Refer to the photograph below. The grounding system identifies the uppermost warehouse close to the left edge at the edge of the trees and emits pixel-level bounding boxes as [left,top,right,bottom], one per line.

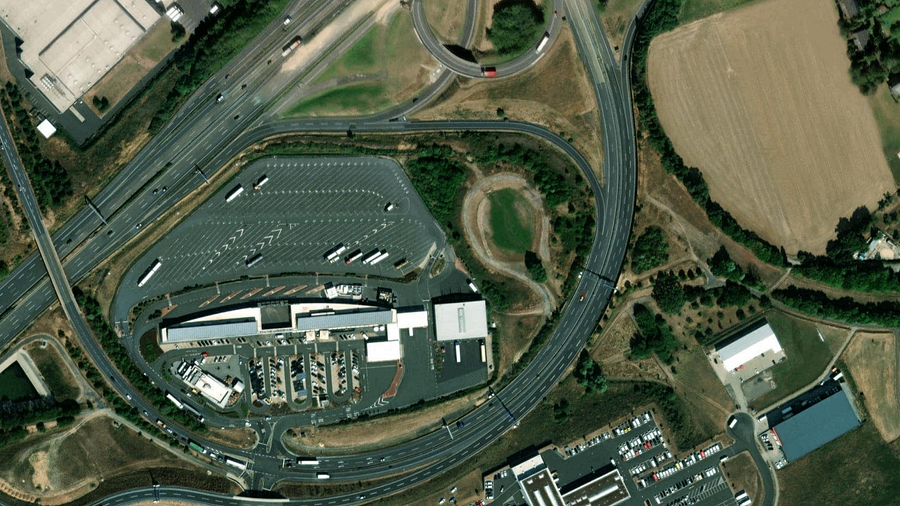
[0,0,161,112]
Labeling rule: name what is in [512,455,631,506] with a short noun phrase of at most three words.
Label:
building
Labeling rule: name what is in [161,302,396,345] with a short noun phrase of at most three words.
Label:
building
